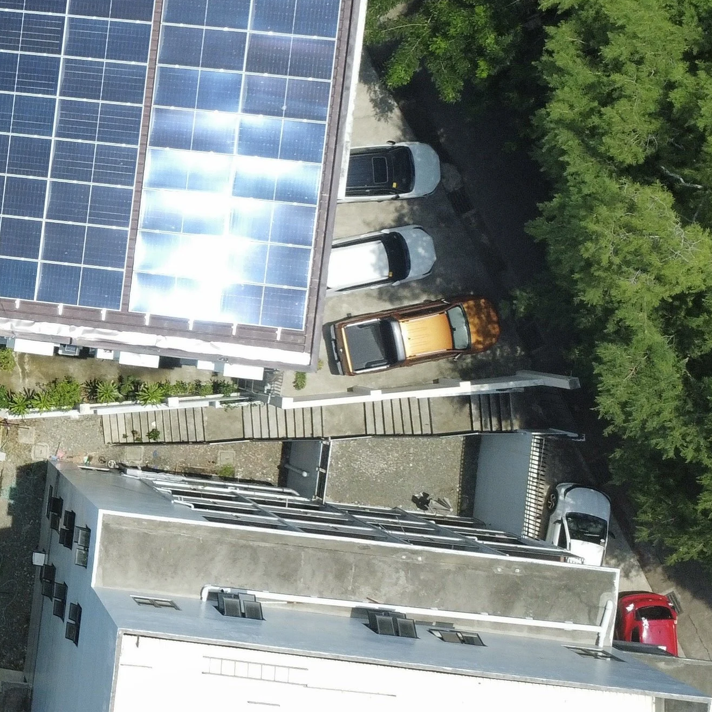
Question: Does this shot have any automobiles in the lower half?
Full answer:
Yes, there is an automobile in the lower half.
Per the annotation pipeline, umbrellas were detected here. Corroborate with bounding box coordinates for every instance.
[430,496,451,509]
